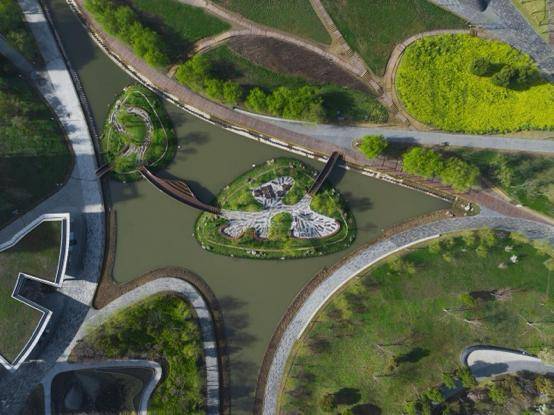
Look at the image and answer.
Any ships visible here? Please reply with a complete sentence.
No, I can't see a single ship in this photo.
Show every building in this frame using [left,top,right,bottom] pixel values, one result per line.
[0,213,77,370]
